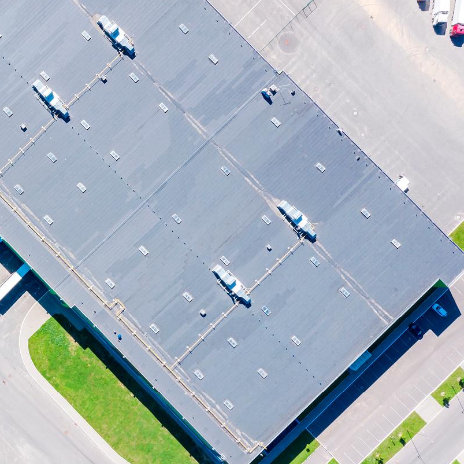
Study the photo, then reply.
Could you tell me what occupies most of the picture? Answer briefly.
buildings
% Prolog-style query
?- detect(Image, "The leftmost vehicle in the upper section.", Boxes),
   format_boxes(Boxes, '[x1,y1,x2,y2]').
[394,173,411,190]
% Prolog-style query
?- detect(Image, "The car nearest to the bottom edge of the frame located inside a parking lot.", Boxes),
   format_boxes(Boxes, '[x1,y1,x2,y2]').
[408,324,423,338]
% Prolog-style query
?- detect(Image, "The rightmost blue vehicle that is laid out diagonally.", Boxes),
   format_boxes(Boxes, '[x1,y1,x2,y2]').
[432,303,447,317]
